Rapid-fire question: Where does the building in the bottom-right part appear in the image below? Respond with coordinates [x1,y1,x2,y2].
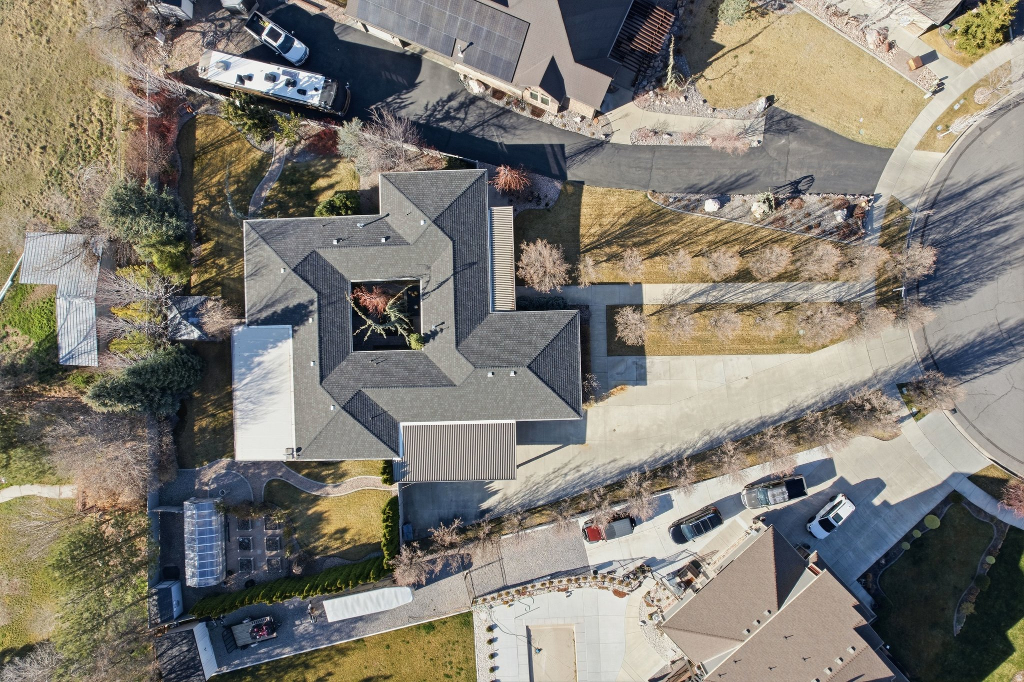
[656,523,934,682]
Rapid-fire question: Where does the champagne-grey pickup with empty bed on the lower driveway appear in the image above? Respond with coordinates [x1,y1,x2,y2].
[738,472,810,508]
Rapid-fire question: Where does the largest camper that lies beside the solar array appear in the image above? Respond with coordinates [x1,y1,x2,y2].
[198,50,356,120]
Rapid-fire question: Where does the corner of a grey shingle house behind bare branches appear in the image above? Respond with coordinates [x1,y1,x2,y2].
[879,0,965,35]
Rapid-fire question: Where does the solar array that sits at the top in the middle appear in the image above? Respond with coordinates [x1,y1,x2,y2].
[354,0,529,84]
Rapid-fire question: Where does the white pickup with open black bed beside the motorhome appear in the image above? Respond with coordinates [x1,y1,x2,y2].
[243,10,311,69]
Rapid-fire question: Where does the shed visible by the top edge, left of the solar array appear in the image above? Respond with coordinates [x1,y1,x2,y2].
[155,0,205,29]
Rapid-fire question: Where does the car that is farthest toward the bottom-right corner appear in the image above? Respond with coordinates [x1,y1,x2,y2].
[806,491,857,538]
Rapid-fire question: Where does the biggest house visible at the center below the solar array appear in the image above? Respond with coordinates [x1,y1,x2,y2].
[242,169,583,462]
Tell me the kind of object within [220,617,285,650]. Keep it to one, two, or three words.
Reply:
trailer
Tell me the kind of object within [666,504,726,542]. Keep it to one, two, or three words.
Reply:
car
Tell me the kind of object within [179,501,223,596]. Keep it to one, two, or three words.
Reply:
greenhouse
